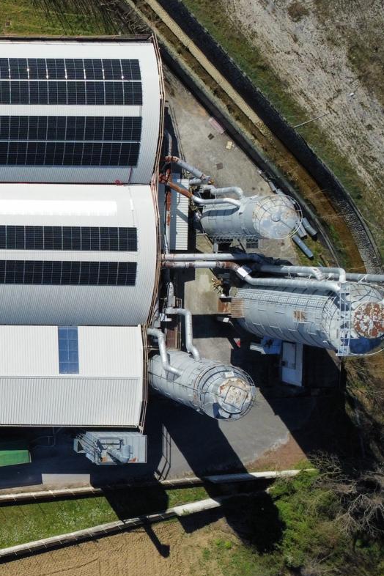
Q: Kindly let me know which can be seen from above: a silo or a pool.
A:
silo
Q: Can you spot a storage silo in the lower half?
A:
Yes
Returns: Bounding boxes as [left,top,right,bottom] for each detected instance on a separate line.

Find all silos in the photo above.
[152,353,259,423]
[203,191,309,244]
[222,277,384,356]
